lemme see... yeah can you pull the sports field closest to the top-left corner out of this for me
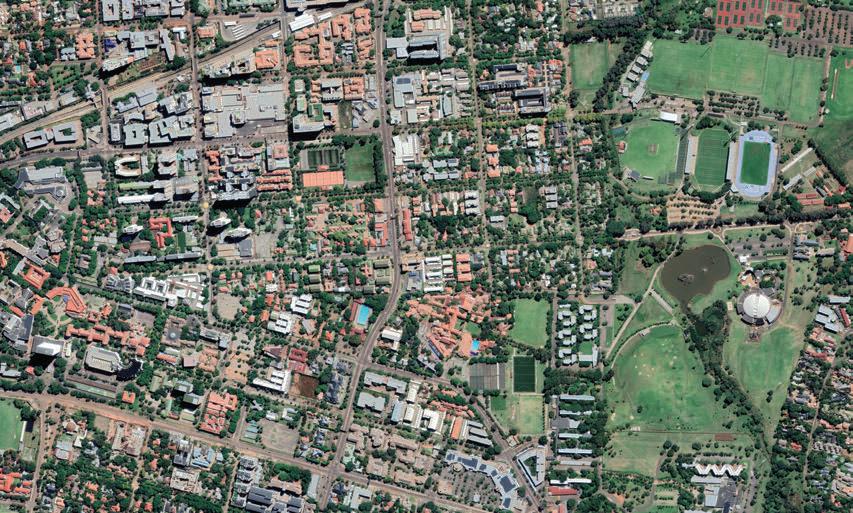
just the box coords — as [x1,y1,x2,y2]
[345,143,374,180]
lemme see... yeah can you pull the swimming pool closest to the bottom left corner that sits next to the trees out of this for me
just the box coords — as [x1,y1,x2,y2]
[355,302,372,327]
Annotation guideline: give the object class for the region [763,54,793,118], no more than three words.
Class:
soccer field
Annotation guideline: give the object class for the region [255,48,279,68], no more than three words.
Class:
building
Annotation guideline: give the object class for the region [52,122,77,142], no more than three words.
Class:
building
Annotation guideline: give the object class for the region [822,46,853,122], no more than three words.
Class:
sports field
